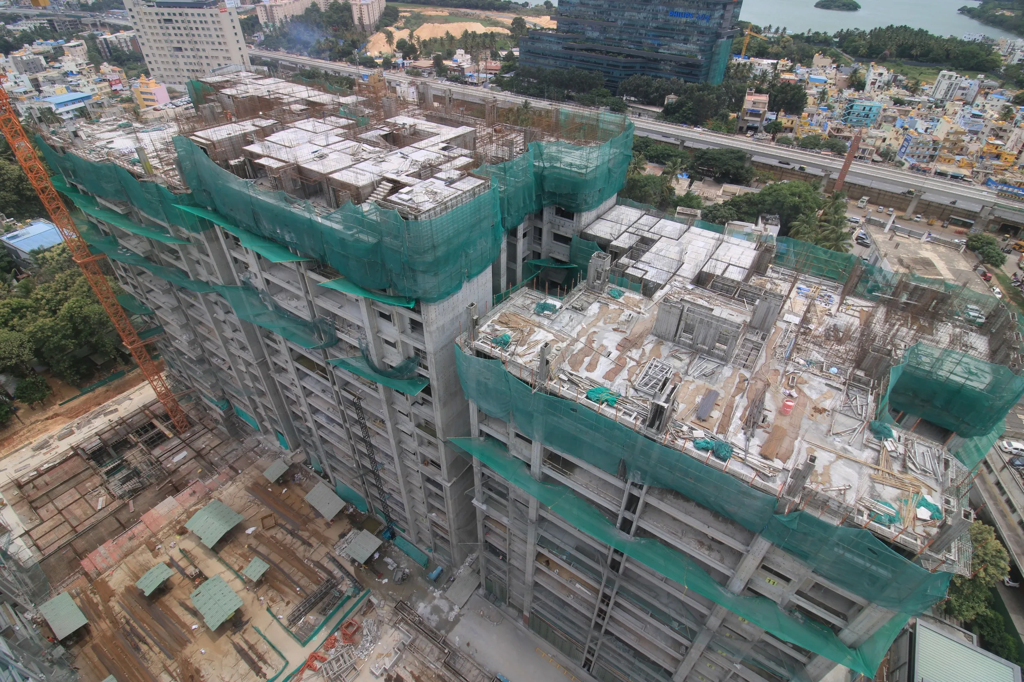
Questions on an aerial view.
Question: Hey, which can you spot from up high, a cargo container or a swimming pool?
cargo container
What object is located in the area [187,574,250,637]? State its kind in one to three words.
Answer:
shed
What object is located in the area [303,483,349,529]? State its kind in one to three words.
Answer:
shed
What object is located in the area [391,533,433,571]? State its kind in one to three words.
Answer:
shipping container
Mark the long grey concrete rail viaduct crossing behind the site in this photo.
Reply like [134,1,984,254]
[256,45,1024,237]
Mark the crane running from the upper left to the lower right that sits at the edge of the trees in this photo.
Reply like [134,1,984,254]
[0,84,215,438]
